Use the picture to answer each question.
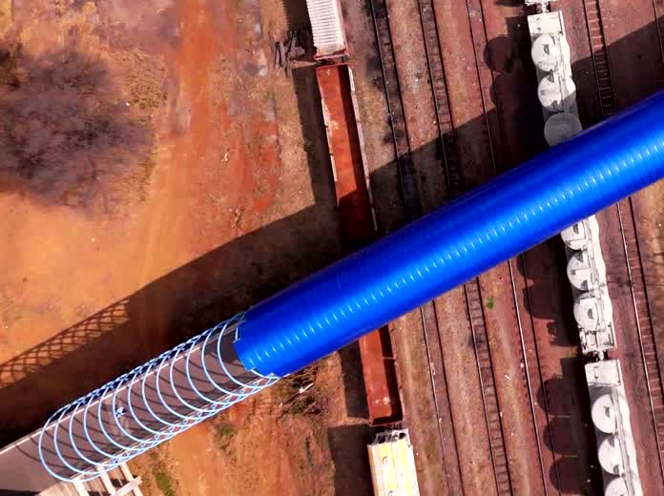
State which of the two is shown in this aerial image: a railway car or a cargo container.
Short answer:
railway car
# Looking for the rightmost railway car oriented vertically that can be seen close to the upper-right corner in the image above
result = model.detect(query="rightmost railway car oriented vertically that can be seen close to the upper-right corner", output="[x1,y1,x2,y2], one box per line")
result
[528,5,583,150]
